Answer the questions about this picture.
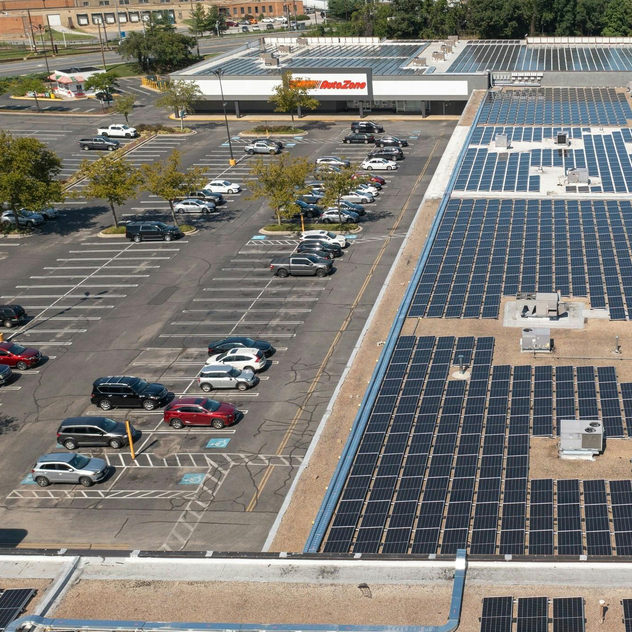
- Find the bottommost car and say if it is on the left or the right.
left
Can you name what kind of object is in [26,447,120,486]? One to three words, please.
car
